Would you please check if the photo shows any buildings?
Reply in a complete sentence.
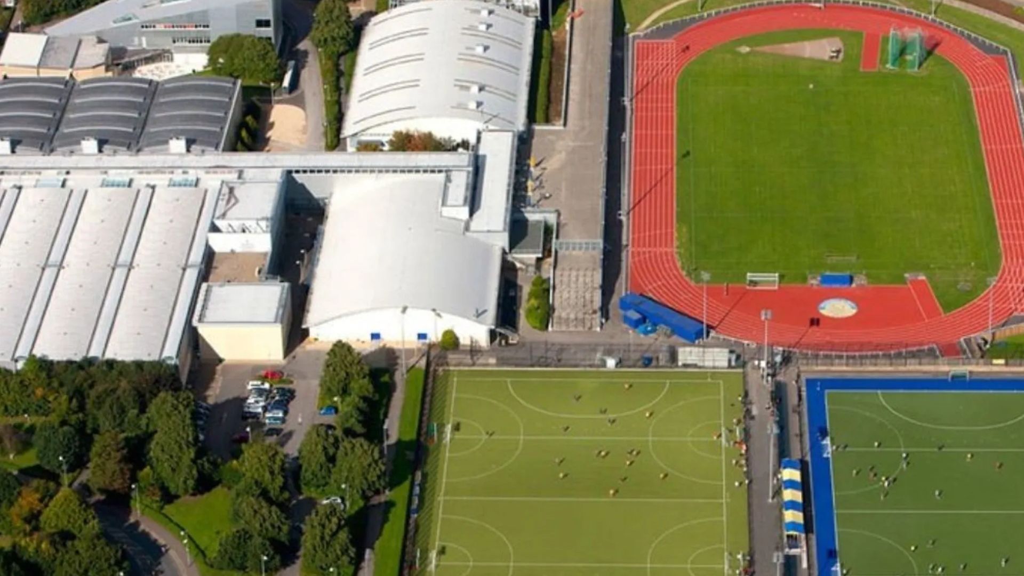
Yes, a building can be made out from above.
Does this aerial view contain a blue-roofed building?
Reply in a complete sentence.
Yes, looking at the shot, I can spot a blue-roofed building.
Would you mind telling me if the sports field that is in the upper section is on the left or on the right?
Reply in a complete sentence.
The sports field that is in the upper section sits on the right side.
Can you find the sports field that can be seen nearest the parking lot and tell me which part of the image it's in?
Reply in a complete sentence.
The sports field that can be seen nearest the parking lot is in the bottom part of the image.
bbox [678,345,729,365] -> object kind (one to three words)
building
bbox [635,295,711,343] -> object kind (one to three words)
building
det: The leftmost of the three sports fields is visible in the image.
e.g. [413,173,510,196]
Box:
[405,372,750,576]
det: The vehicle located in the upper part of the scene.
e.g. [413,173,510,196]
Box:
[279,63,294,92]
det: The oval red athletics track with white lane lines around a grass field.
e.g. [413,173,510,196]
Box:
[618,0,1024,357]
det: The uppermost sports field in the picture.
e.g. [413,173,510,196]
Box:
[676,31,1002,312]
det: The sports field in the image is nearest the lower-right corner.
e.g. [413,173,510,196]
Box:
[806,379,1024,576]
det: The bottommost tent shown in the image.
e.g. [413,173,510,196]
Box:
[781,458,805,544]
